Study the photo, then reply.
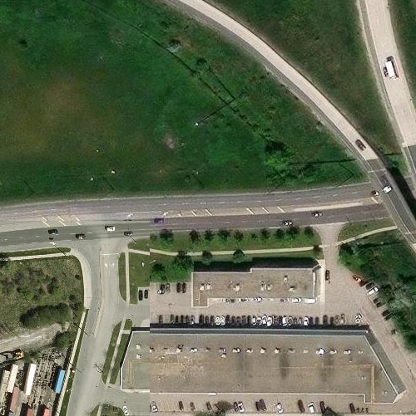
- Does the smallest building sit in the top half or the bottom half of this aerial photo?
bottom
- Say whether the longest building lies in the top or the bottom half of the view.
bottom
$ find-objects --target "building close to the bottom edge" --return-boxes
[120,326,406,403]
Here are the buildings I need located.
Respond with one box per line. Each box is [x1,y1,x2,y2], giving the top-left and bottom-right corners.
[193,264,322,307]
[120,326,406,403]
